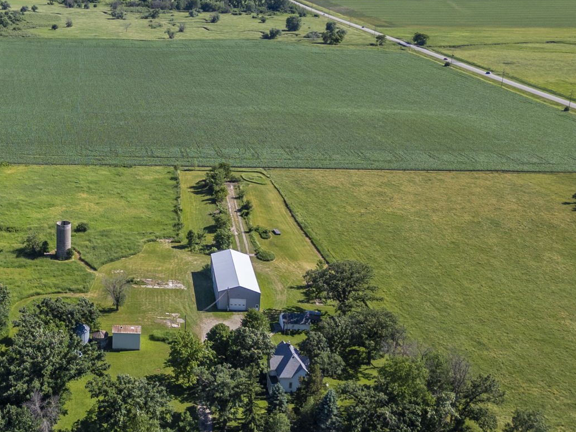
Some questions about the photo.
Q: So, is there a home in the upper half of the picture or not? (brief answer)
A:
No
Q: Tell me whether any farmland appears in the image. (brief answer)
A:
Yes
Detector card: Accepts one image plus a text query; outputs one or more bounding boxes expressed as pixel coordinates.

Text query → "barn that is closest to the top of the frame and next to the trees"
[208,248,262,309]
